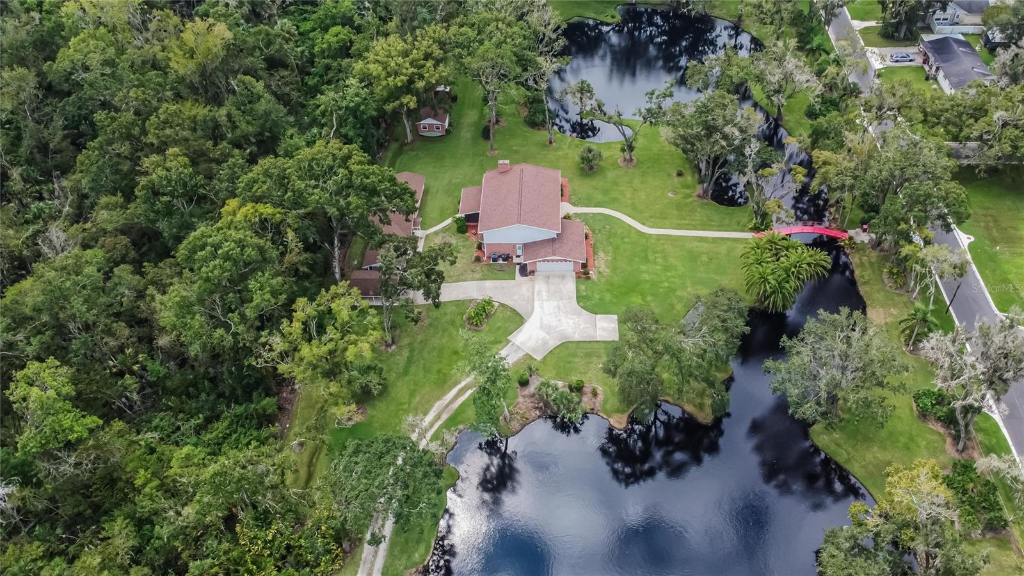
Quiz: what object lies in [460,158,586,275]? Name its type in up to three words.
house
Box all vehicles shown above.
[913,41,927,52]
[889,50,917,62]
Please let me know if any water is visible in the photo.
Yes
